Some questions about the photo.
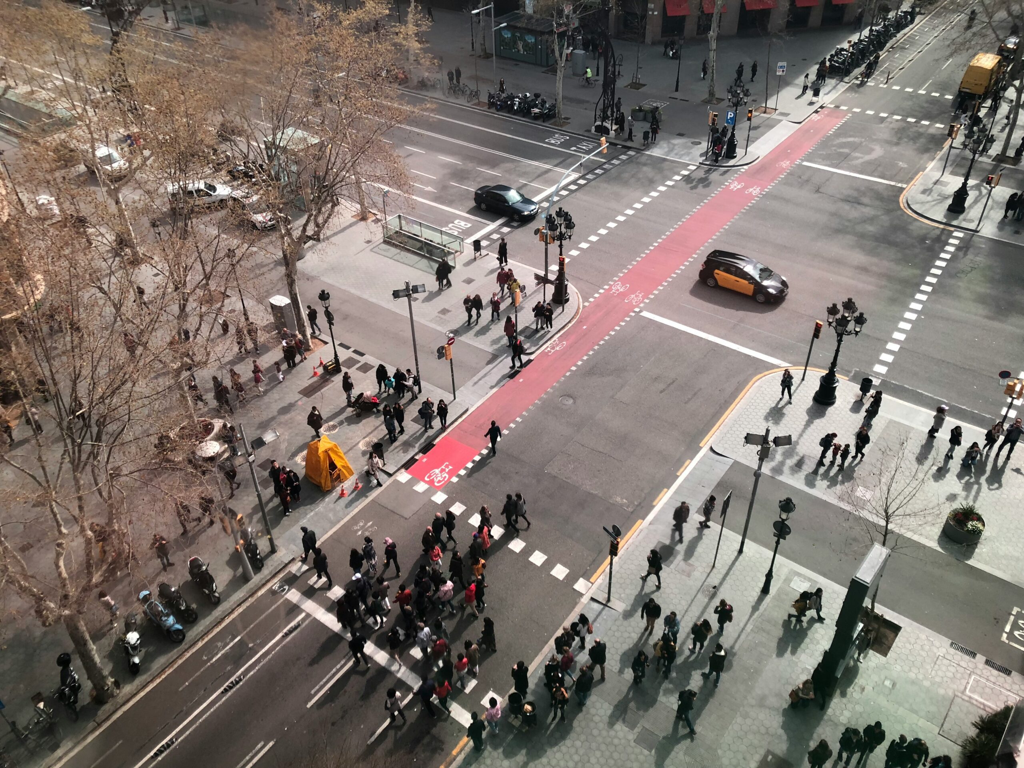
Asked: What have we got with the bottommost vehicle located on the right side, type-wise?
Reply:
car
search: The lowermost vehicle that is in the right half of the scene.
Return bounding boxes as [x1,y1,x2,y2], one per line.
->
[700,244,795,302]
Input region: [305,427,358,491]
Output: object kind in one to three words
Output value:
tent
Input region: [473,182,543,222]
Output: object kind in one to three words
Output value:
car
